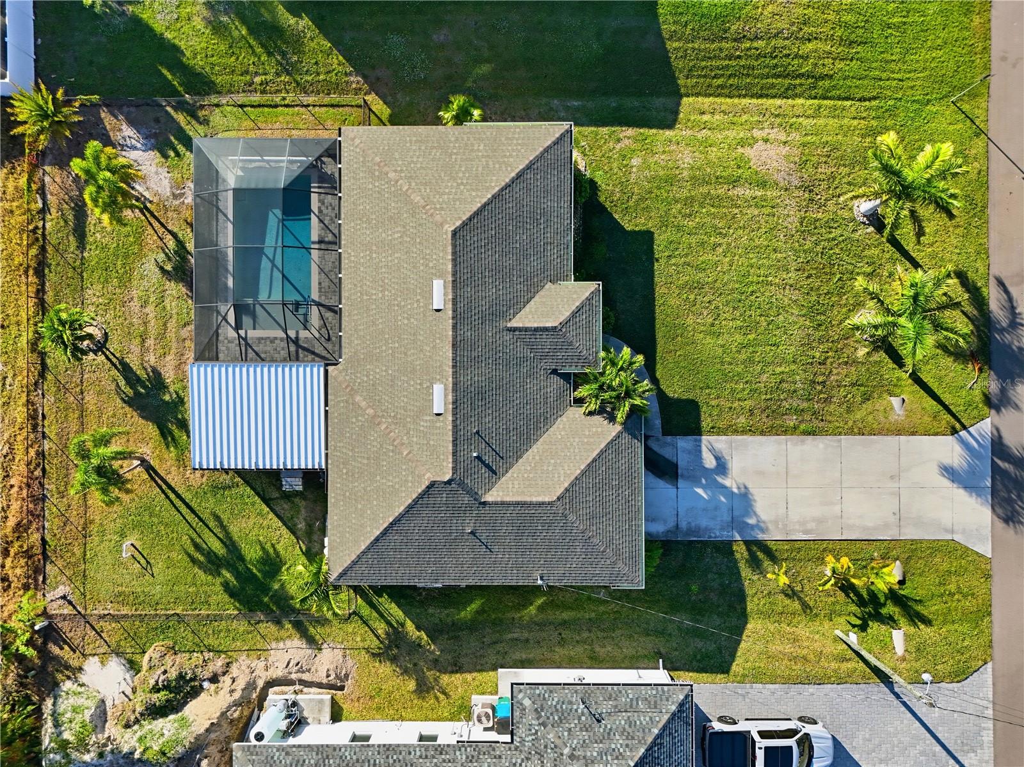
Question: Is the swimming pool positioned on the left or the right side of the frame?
left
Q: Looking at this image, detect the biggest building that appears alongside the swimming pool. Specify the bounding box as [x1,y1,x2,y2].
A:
[325,122,646,589]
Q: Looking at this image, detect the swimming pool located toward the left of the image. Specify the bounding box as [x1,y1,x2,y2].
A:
[226,155,318,337]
